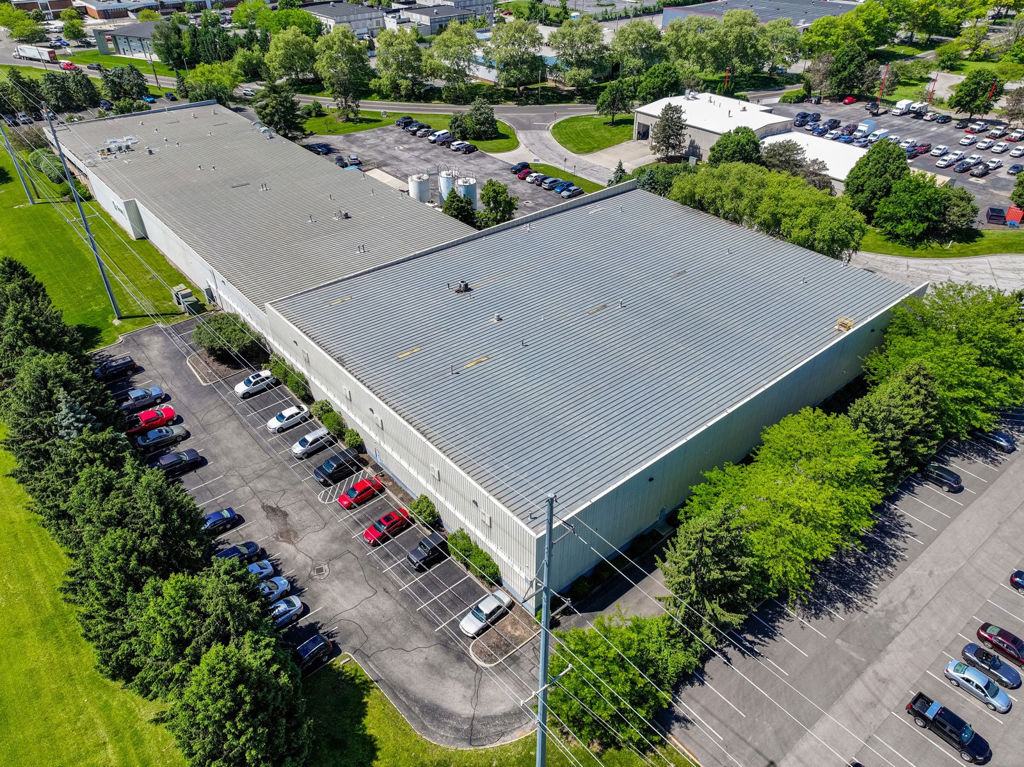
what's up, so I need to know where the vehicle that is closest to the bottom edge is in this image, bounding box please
[901,687,994,767]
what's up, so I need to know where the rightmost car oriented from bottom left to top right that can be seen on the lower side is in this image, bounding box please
[449,597,506,645]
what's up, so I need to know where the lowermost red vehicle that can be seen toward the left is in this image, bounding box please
[362,509,414,546]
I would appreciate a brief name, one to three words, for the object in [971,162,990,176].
car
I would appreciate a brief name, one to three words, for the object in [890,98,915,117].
vehicle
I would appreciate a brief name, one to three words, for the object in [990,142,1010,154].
vehicle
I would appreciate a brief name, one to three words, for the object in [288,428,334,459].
car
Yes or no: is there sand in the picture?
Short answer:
No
